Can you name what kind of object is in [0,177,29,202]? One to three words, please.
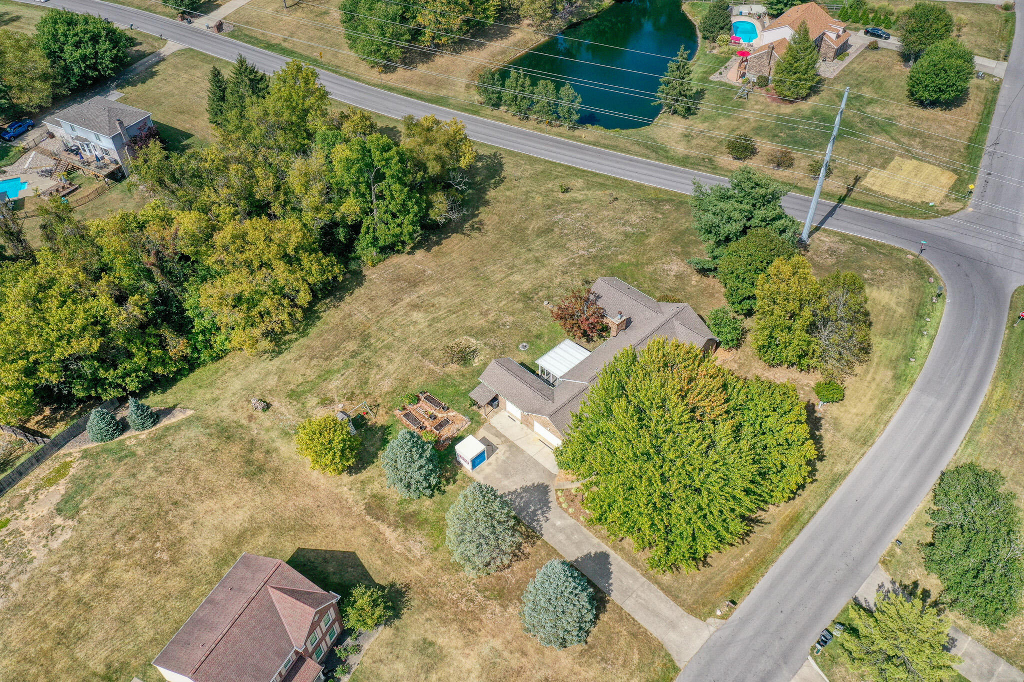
swimming pool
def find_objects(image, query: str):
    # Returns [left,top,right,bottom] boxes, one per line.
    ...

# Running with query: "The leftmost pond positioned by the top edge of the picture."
[487,0,699,130]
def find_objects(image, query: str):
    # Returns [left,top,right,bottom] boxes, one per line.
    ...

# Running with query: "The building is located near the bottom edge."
[150,551,343,682]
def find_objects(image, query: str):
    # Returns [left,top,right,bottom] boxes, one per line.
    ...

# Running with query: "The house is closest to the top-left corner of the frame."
[41,96,162,187]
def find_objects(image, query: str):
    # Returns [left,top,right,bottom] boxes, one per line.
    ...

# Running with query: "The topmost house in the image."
[742,0,856,82]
